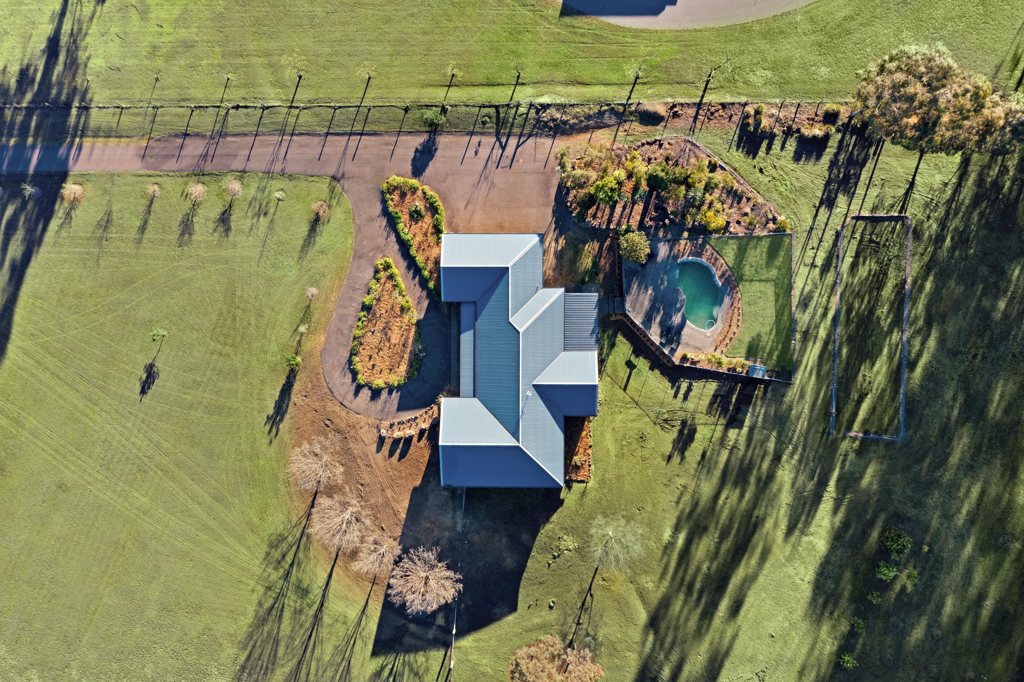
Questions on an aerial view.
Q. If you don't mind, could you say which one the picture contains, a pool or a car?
pool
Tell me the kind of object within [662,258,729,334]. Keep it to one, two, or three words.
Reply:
swimming pool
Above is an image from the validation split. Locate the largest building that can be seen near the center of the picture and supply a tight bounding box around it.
[437,231,602,488]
